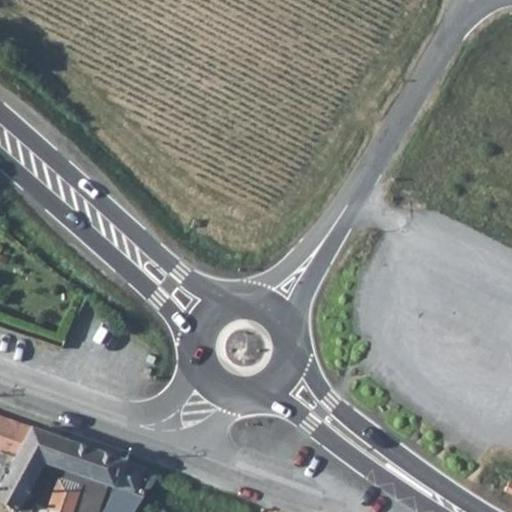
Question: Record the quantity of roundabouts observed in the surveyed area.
1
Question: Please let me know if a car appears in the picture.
Yes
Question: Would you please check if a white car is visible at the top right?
No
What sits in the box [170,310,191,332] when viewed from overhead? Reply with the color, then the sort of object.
white car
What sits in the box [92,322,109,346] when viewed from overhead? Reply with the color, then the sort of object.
white vehicle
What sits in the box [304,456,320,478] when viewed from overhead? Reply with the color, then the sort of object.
white car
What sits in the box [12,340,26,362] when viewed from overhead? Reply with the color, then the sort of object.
white vehicle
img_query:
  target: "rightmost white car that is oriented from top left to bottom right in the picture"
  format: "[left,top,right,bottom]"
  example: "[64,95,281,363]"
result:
[271,400,294,418]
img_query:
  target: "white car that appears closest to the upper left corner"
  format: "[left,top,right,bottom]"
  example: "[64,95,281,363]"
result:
[78,178,99,199]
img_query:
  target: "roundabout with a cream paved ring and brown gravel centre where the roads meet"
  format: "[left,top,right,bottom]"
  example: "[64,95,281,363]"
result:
[178,281,311,414]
